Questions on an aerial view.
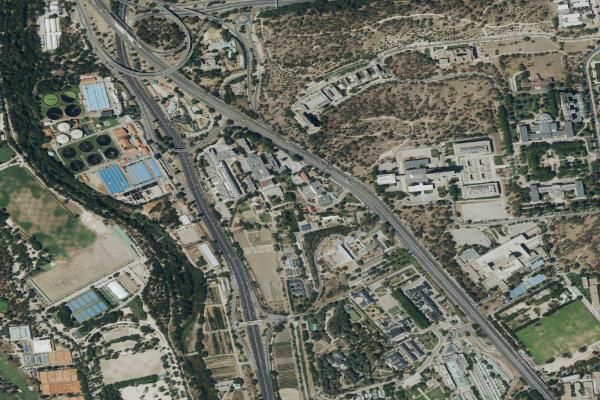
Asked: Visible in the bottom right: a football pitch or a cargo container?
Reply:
football pitch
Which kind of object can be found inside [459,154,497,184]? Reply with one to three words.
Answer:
building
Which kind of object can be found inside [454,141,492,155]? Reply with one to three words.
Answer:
building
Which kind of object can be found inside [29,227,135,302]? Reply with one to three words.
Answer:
sports field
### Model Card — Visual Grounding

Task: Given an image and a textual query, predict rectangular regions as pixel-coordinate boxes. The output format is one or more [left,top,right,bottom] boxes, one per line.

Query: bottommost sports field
[101,349,164,384]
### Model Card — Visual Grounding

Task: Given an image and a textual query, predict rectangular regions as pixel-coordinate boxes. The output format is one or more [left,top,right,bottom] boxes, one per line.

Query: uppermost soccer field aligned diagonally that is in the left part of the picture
[0,163,97,263]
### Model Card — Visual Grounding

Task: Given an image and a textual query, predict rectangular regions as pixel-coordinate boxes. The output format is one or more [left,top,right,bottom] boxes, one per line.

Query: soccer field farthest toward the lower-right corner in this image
[515,299,600,364]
